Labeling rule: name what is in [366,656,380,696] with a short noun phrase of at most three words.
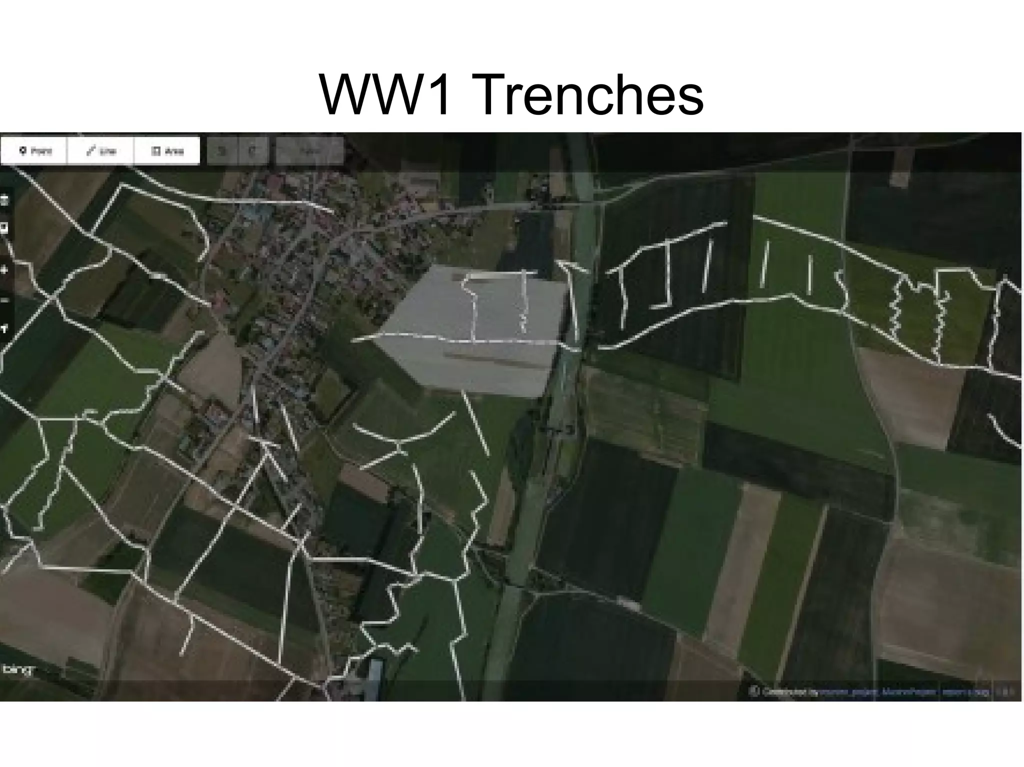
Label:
barn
